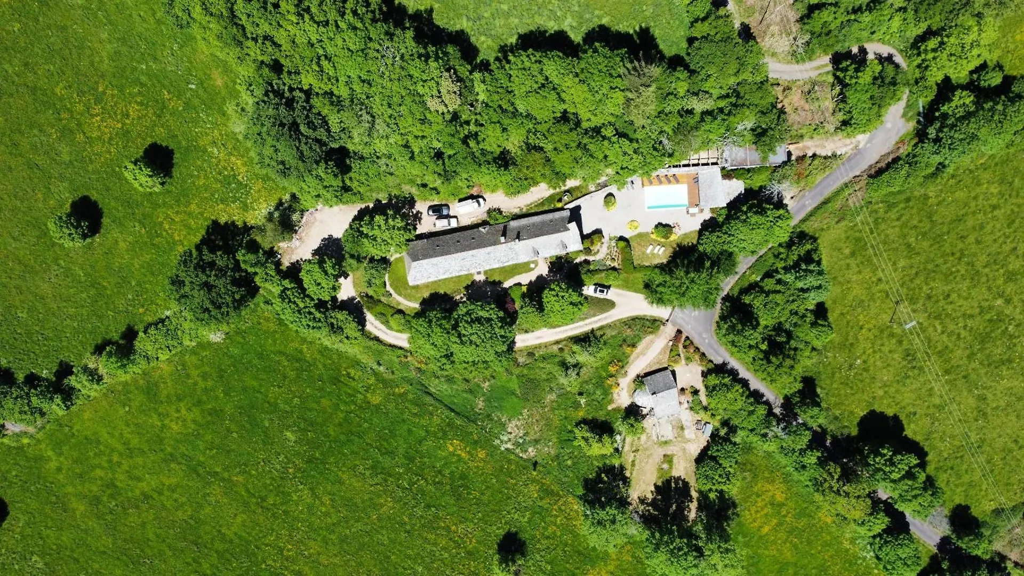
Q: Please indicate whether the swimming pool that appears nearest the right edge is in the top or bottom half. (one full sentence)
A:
The swimming pool that appears nearest the right edge is in the top half of the image.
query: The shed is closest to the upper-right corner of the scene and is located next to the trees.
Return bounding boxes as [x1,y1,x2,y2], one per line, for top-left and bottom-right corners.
[715,144,787,168]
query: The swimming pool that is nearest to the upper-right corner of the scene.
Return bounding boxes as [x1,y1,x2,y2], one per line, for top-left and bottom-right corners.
[643,182,690,212]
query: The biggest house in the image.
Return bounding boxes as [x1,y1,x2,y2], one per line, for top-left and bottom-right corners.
[402,208,583,286]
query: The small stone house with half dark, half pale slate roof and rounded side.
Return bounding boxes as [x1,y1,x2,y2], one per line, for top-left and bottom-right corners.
[639,370,680,418]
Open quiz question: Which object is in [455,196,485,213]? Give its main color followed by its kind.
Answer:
white vehicle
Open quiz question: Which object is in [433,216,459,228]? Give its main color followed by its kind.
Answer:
white vehicle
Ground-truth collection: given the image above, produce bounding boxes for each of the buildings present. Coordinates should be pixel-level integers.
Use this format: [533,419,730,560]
[695,166,726,209]
[639,370,680,418]
[402,208,583,286]
[715,144,787,168]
